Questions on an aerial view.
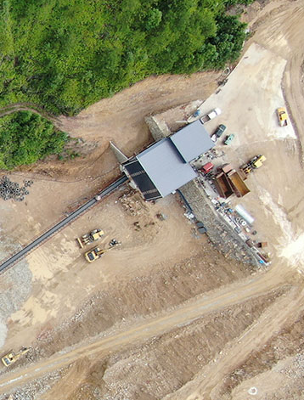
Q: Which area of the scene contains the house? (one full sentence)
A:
The house appears toward the center of the photo.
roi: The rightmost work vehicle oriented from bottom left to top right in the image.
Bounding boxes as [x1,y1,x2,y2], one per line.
[237,154,271,177]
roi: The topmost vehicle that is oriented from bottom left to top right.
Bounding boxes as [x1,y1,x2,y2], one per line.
[201,107,222,124]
